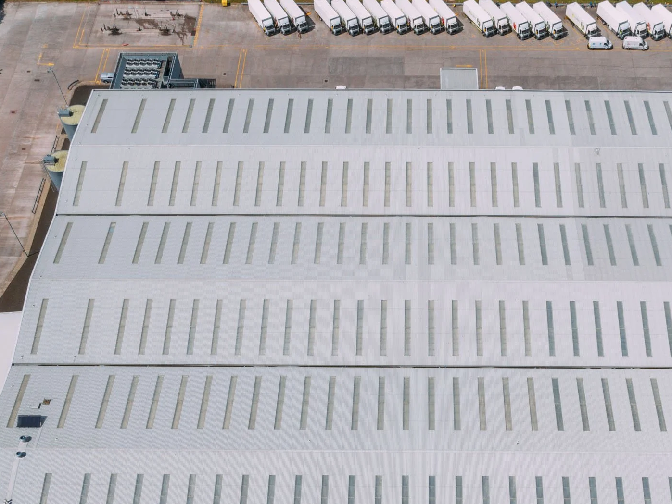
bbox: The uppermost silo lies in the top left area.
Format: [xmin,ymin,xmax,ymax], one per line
[58,106,85,143]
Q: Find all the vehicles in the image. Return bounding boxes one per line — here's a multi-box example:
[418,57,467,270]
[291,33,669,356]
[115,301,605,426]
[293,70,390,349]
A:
[314,0,344,36]
[493,81,505,90]
[633,1,667,41]
[429,0,461,35]
[248,0,277,36]
[587,35,612,49]
[532,0,565,40]
[381,0,411,36]
[412,0,443,34]
[500,0,532,41]
[336,81,347,89]
[594,0,630,40]
[651,2,672,42]
[623,36,647,51]
[516,0,549,40]
[363,0,394,34]
[564,0,599,40]
[331,0,362,36]
[99,70,115,82]
[281,0,310,34]
[347,0,377,35]
[478,0,511,35]
[396,0,426,35]
[616,0,650,38]
[264,0,293,35]
[463,0,496,38]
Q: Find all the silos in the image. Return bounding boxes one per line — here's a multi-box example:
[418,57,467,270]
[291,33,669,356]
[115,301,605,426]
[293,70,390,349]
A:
[42,152,68,194]
[58,106,85,143]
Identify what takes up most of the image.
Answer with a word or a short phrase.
buildings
